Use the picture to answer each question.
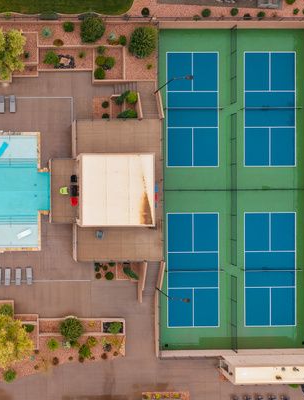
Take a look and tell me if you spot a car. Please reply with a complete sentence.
No, there's no car here.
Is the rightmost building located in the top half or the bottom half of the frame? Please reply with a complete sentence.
The bottom half of the photo is where the rightmost building is.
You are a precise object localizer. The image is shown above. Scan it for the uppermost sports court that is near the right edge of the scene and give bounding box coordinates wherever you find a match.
[243,52,296,167]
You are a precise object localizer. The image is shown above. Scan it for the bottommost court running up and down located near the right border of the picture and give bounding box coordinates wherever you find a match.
[243,212,296,327]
